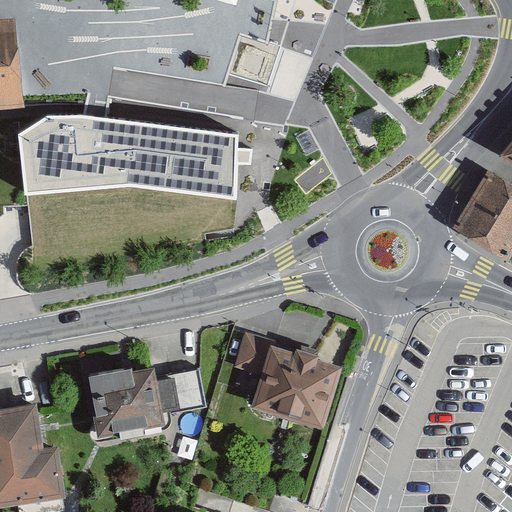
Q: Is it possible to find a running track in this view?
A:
No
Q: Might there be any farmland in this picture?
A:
No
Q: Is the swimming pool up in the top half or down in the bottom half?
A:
bottom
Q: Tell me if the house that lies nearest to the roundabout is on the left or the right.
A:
right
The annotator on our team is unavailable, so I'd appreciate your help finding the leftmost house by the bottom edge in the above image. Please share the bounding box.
[0,404,66,508]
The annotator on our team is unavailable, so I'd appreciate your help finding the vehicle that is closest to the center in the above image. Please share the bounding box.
[306,230,330,248]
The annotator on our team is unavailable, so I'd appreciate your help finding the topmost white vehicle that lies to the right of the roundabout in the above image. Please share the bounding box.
[445,239,470,261]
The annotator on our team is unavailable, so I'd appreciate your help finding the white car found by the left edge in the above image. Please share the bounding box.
[21,376,34,402]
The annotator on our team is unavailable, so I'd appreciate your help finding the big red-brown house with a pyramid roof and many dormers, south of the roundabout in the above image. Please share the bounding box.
[236,333,342,429]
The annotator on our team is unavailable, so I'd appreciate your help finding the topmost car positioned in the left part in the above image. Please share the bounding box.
[58,311,82,324]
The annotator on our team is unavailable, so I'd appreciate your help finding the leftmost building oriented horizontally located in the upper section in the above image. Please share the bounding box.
[17,115,252,200]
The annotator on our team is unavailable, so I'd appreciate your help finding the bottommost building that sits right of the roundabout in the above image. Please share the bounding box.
[453,170,512,264]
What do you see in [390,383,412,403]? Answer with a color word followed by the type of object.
white car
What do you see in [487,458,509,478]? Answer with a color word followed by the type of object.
white car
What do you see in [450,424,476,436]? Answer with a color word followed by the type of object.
white vehicle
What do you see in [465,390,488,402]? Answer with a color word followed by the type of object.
white vehicle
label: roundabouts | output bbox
[356,218,420,282]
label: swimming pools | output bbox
[179,412,202,436]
